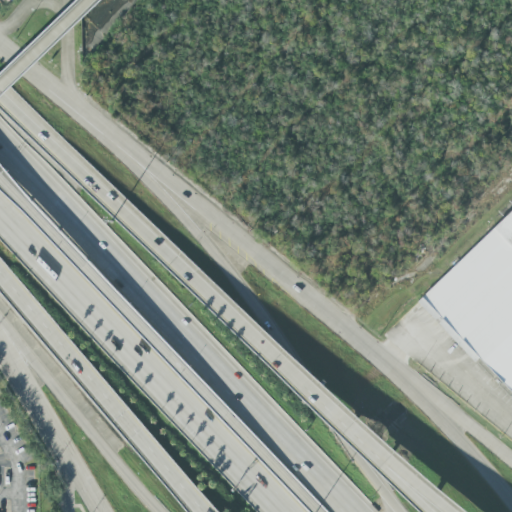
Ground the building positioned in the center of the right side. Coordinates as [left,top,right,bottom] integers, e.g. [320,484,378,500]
[418,212,512,392]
